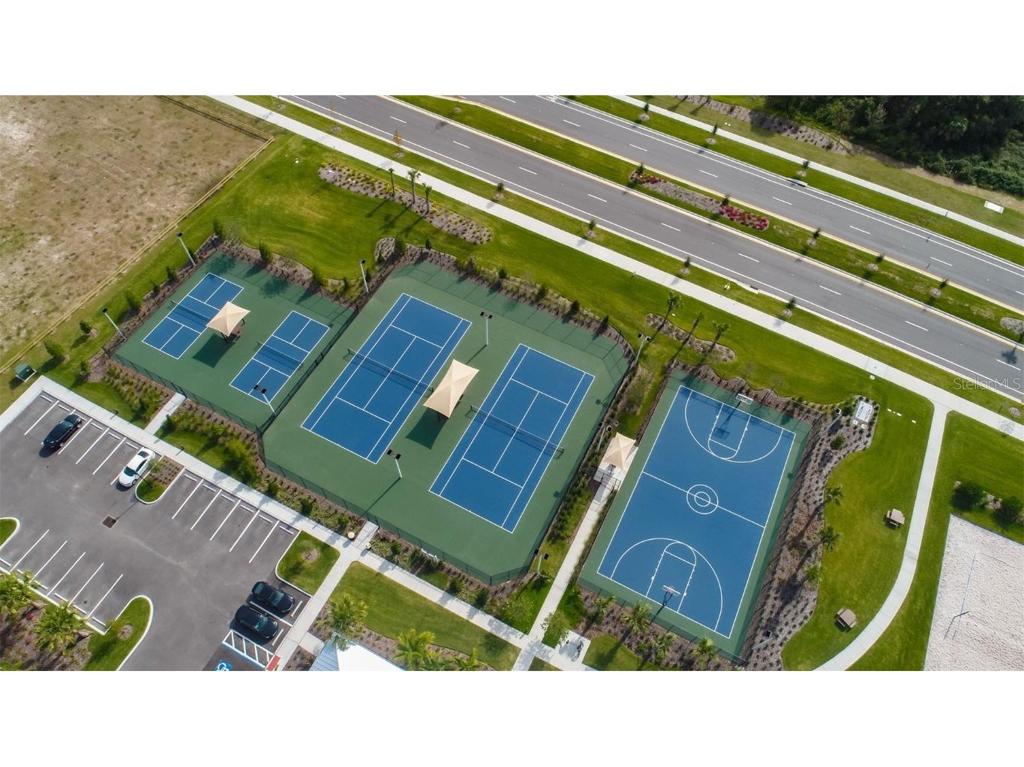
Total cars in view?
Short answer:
4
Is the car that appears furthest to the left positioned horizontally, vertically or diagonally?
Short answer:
diagonally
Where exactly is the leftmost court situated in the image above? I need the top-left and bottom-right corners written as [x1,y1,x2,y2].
[142,272,243,359]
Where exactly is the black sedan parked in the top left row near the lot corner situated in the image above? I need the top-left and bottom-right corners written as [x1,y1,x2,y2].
[42,416,82,452]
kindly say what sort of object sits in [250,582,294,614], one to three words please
car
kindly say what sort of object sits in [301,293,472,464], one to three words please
tennis court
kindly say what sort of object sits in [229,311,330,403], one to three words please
sports court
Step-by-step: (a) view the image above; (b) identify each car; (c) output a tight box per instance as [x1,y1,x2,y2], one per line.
[250,582,294,614]
[233,605,279,641]
[42,416,82,452]
[117,449,155,488]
